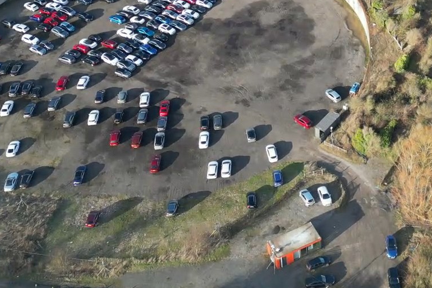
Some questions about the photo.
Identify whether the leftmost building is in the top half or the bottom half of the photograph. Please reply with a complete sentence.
The leftmost building sits in the bottom half of the picture.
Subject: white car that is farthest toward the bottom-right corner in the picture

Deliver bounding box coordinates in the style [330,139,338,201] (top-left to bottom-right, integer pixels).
[316,183,334,209]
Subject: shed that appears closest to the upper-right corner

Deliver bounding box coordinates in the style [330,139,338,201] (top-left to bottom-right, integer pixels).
[315,111,340,143]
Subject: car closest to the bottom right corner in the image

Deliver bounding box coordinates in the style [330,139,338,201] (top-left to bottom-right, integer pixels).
[385,265,403,288]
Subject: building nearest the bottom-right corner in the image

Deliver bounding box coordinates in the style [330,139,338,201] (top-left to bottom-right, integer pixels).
[266,221,321,268]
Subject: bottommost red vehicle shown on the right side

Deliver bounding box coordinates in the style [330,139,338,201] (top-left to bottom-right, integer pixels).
[291,113,314,130]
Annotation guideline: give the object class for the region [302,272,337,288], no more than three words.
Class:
car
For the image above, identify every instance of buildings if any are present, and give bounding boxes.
[315,111,340,143]
[266,221,321,268]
